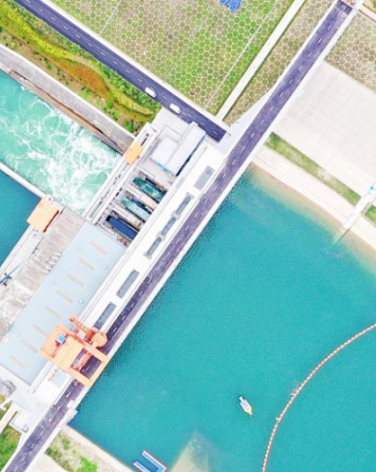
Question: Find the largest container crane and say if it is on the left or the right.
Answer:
left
